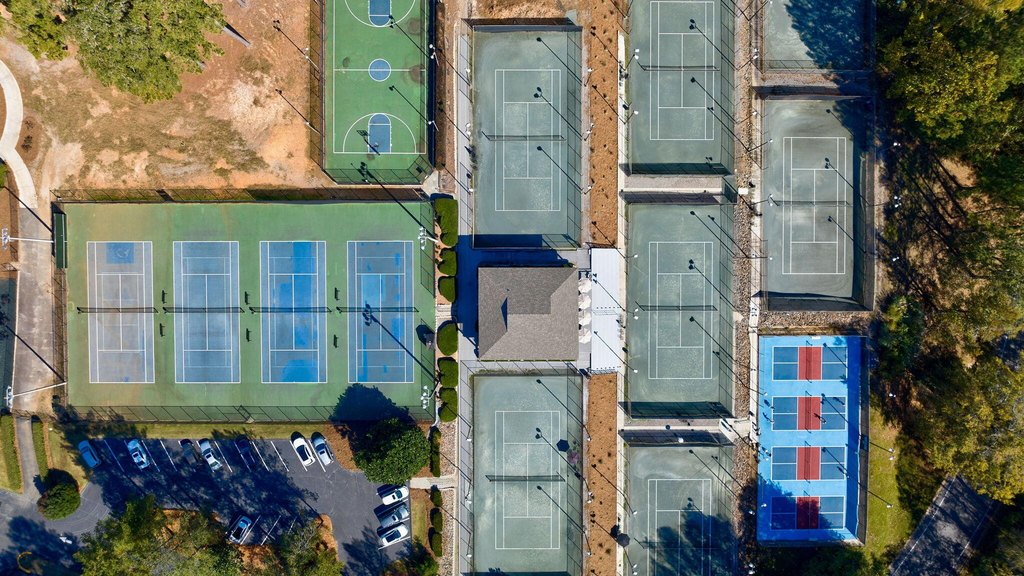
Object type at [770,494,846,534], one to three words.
sports court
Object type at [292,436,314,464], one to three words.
car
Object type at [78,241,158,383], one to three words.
tennis court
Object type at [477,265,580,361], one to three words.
building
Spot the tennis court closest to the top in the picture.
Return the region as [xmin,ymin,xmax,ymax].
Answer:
[763,0,865,69]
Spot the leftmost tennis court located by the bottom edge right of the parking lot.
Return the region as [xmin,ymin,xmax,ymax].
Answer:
[473,376,583,576]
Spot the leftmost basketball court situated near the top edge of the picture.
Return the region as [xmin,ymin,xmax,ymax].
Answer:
[324,0,433,184]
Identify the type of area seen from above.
sports ground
